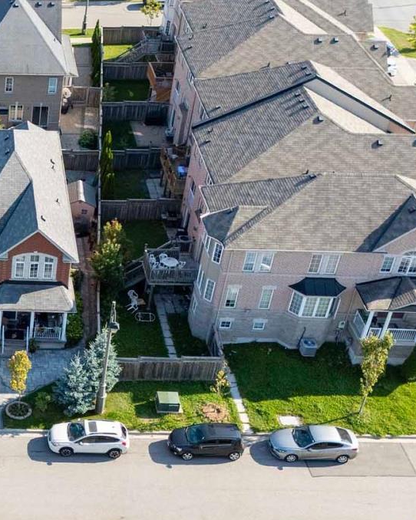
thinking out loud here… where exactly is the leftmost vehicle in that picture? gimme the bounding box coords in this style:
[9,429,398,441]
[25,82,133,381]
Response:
[44,413,133,456]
